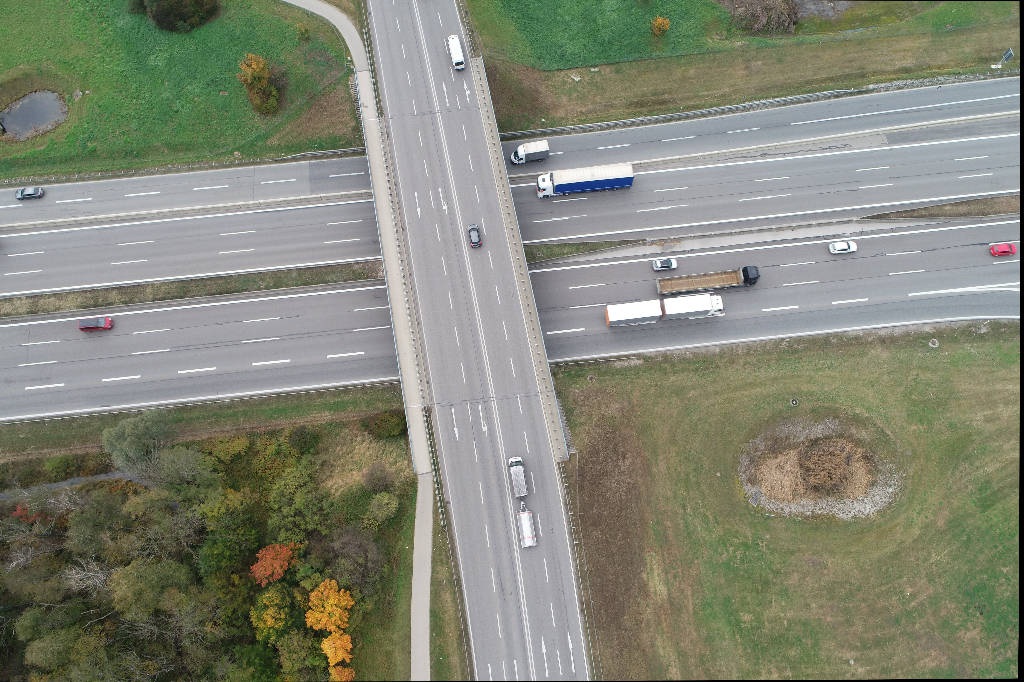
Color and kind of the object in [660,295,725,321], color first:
white truck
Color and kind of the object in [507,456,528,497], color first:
white truck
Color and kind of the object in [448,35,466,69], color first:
white vehicle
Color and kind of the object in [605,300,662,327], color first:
white trailer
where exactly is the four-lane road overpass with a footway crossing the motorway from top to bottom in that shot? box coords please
[354,52,568,474]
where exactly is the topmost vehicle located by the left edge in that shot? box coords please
[15,186,43,199]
